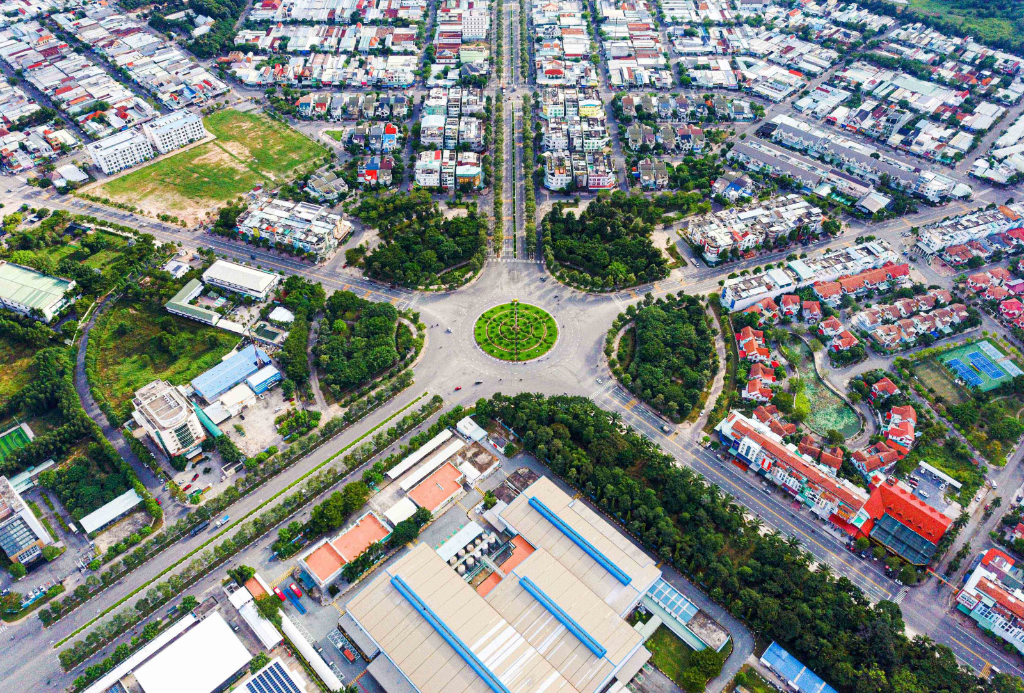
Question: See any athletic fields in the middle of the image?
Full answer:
No, no athletic field can be made out in the middle of the image.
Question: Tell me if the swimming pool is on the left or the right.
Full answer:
The swimming pool is on the left side of the image.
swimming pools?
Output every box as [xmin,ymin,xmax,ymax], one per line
[246,321,285,345]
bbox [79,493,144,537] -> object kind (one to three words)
shed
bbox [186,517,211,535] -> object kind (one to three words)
vehicle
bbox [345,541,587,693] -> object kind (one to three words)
building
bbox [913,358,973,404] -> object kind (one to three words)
sports field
